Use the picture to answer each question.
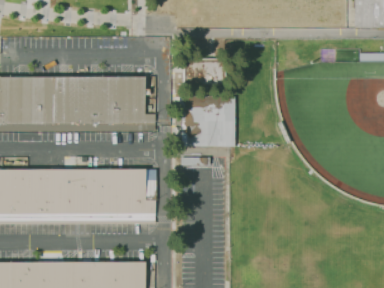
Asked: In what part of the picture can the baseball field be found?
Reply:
right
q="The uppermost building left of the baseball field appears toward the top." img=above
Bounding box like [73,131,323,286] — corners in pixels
[186,54,222,85]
